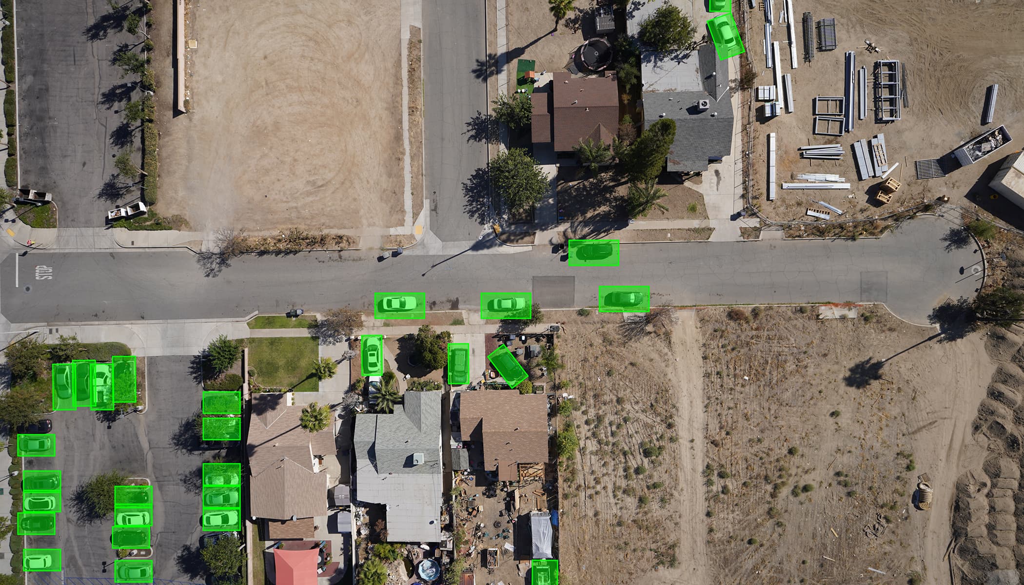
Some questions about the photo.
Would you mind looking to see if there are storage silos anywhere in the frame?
No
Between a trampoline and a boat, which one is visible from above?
trampoline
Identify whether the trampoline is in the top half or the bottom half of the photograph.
top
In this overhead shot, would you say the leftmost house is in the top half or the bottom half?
bottom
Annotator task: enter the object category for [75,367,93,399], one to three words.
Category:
car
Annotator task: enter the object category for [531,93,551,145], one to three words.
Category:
house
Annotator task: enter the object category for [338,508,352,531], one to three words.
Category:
shed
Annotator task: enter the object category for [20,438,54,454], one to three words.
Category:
car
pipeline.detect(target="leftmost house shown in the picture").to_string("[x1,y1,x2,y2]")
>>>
[247,391,340,523]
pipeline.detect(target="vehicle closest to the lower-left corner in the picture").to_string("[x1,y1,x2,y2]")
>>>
[24,554,55,570]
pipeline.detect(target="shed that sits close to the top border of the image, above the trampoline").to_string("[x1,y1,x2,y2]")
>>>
[594,5,615,36]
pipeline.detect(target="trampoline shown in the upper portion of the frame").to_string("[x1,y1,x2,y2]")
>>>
[580,35,614,71]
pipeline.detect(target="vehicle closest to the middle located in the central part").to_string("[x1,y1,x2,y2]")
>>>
[493,296,526,310]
